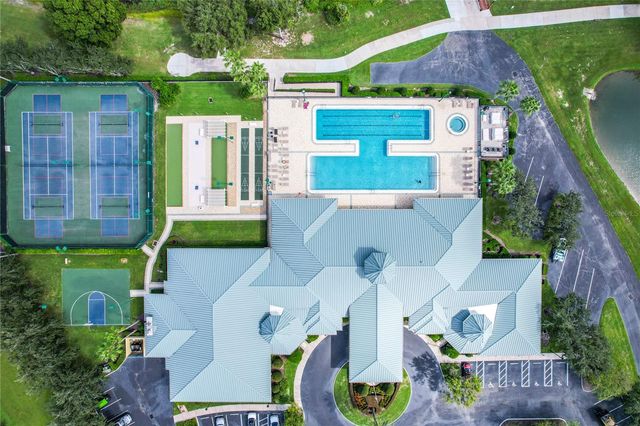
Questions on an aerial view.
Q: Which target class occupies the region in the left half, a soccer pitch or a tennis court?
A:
tennis court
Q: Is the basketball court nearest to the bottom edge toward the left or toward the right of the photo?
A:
left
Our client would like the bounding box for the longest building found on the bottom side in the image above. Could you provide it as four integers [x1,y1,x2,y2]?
[144,198,542,402]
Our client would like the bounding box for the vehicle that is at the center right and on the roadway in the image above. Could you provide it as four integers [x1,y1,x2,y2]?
[553,240,569,265]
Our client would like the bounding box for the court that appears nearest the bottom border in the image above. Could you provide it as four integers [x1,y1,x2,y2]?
[62,269,130,325]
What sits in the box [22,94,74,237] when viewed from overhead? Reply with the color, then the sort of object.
blue tennis court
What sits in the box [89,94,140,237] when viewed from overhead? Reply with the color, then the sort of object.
blue tennis court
